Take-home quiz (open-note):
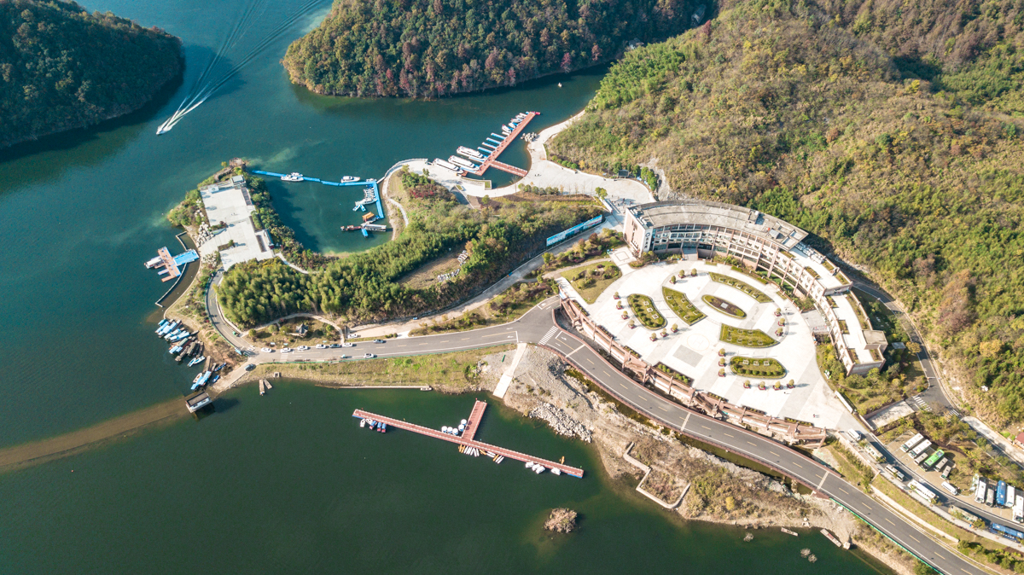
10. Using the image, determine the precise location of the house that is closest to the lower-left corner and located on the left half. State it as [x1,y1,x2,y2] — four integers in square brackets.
[179,387,215,419]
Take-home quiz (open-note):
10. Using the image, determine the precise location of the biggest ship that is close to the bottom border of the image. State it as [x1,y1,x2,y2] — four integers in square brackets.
[818,528,841,549]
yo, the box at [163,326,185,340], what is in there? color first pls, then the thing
white boat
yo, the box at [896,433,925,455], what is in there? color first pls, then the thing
white bus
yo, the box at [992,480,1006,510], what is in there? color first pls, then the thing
blue vehicle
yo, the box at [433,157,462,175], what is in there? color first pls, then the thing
white boat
